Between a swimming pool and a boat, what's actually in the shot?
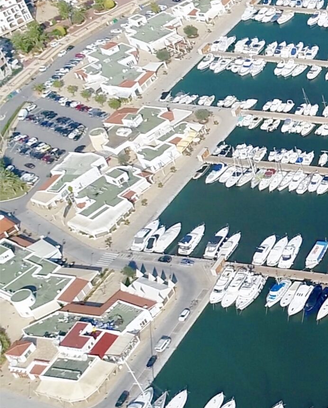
boat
